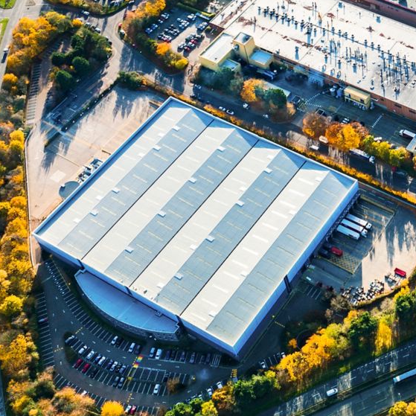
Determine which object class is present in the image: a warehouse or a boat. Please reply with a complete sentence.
Visible in the photo is a warehouse.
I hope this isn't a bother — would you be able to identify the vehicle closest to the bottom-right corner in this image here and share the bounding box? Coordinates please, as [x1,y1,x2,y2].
[393,367,416,385]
